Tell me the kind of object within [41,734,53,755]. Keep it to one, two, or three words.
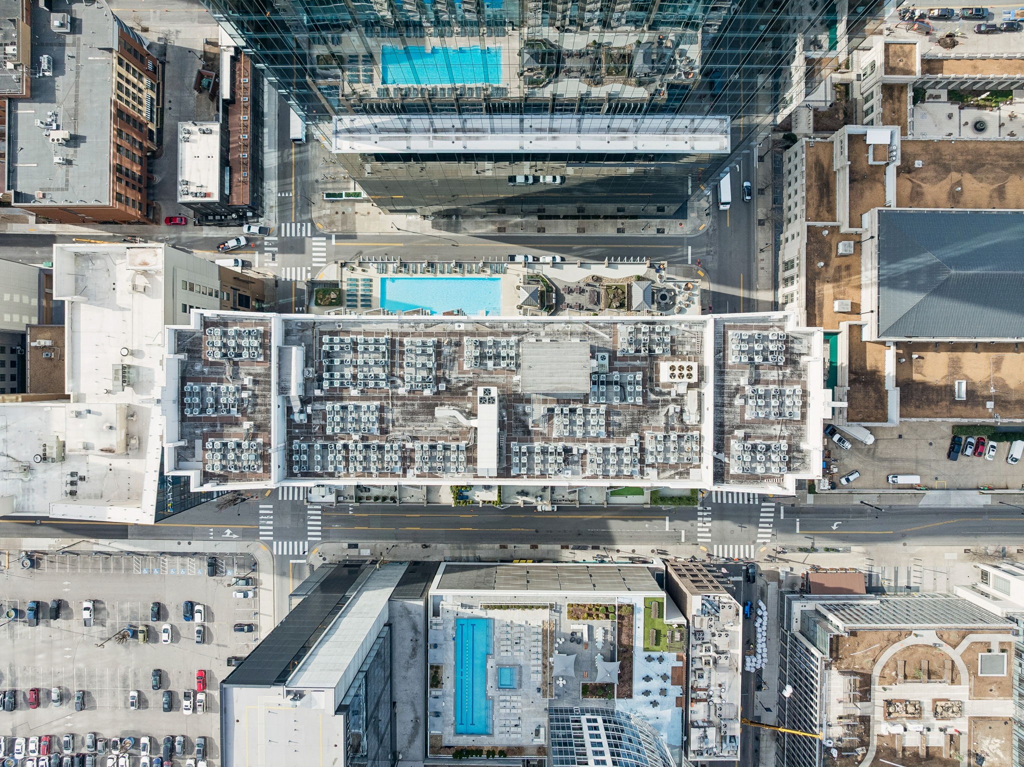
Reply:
vehicle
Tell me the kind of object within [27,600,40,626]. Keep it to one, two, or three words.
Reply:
vehicle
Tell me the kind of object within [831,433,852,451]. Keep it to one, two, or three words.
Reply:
car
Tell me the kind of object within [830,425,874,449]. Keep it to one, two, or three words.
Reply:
truck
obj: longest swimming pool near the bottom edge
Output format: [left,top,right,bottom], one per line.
[455,617,494,736]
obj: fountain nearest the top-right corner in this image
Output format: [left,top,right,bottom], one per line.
[969,116,990,136]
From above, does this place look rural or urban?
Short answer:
urban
